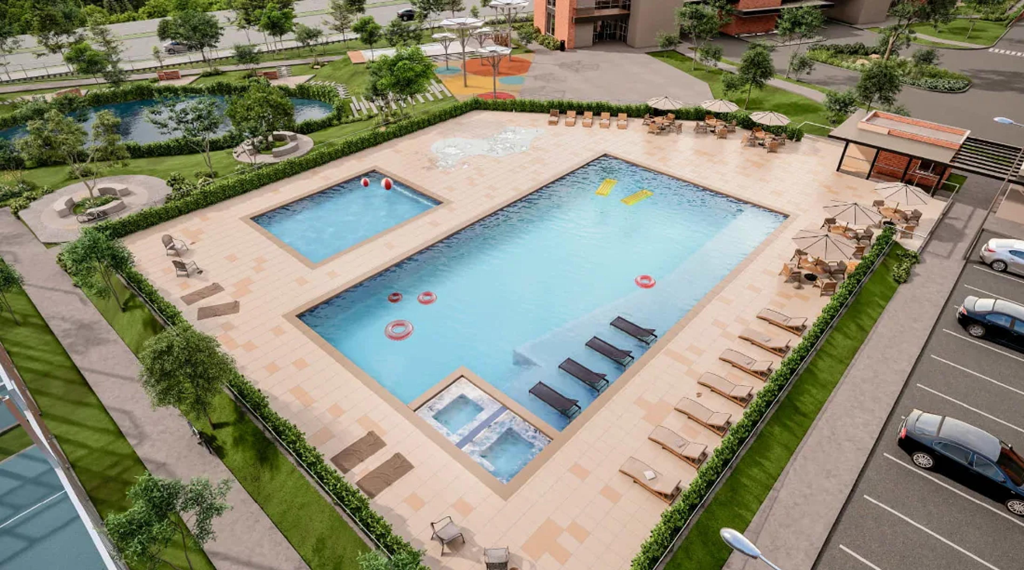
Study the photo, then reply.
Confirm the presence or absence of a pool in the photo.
Yes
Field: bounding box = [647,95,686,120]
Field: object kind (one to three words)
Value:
umbrella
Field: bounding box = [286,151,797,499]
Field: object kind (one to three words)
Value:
swimming pool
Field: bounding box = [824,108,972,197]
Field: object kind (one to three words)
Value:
building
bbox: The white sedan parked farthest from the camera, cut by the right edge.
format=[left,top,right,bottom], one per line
[979,238,1024,273]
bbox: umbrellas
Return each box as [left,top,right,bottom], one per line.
[748,109,789,135]
[647,95,686,120]
[834,197,895,240]
[699,97,737,122]
[874,182,934,224]
[793,227,859,265]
